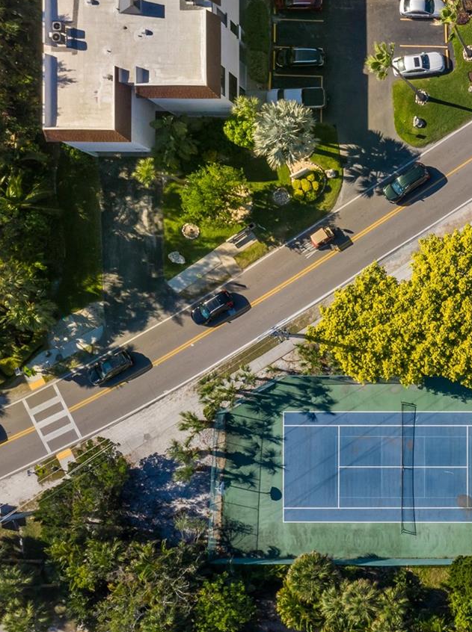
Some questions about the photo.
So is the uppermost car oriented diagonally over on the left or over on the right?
right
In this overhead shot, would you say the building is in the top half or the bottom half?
top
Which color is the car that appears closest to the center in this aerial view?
black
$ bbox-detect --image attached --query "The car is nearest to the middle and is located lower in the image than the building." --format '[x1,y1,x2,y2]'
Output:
[189,289,238,327]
